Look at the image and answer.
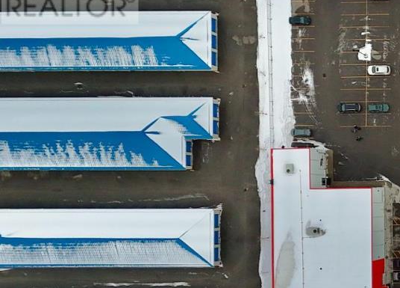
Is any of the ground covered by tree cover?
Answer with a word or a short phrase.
No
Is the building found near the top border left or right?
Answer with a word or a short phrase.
left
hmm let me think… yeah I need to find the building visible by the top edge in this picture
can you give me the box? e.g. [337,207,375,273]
[0,10,217,70]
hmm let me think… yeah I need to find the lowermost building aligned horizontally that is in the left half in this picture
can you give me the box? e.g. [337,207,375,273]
[0,208,219,268]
